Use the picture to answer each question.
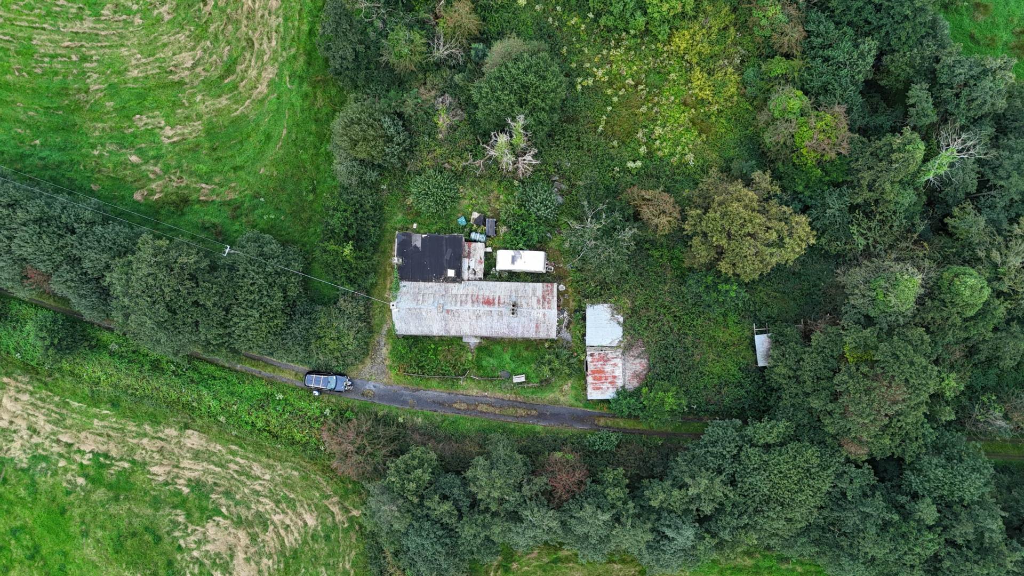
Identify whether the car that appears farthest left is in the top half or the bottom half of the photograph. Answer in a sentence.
The bottom half of the photo is where the car that appears farthest left is.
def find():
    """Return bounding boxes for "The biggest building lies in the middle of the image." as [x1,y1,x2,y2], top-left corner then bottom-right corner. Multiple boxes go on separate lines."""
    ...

[388,232,558,343]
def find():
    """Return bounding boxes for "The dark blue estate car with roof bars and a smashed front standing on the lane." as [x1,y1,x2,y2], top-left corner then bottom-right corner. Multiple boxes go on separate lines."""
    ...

[302,372,349,396]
